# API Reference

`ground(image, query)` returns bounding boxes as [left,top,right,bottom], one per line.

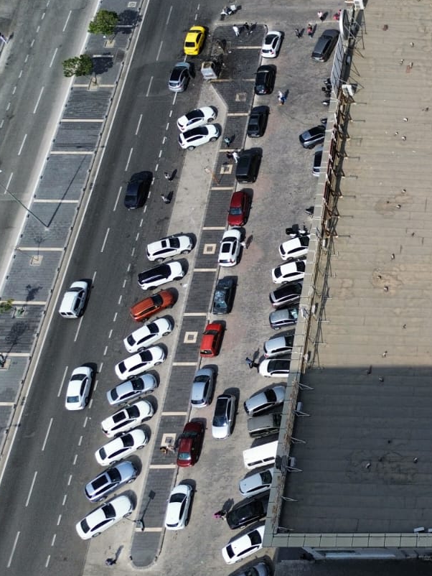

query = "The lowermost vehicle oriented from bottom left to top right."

[221,523,267,565]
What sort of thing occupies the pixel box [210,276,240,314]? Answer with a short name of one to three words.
car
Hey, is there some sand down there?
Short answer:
No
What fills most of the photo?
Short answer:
paved ground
